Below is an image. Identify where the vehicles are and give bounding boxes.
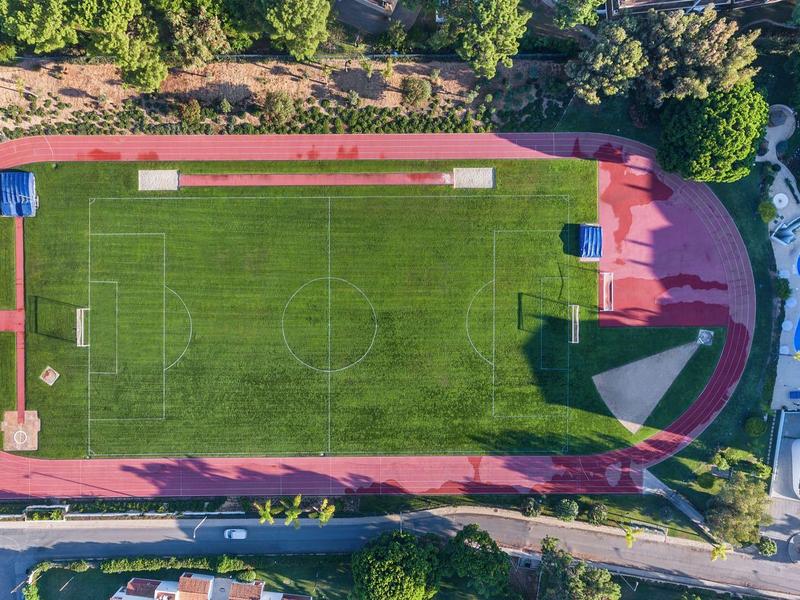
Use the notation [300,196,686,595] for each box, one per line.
[223,529,246,541]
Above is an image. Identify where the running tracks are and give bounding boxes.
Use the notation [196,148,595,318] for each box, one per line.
[0,132,756,499]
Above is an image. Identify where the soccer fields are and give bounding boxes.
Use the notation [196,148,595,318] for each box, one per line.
[74,188,580,456]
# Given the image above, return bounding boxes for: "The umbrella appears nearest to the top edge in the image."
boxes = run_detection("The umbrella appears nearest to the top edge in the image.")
[770,193,788,208]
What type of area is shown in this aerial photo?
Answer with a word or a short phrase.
sports ground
